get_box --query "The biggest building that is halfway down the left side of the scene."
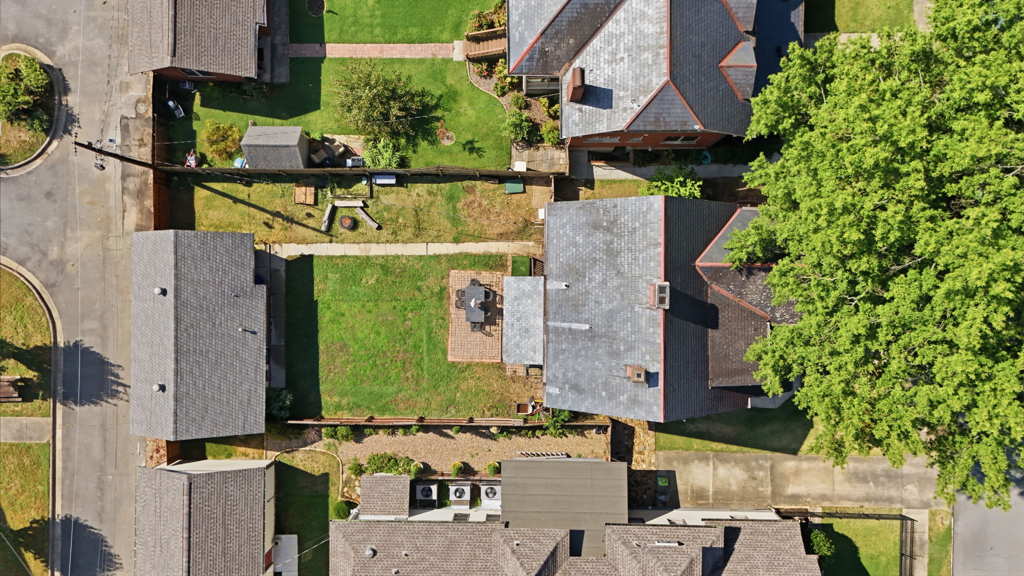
[130,230,271,441]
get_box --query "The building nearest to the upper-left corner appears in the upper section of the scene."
[128,0,270,82]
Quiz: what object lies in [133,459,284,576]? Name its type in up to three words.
building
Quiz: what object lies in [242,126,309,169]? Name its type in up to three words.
shed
